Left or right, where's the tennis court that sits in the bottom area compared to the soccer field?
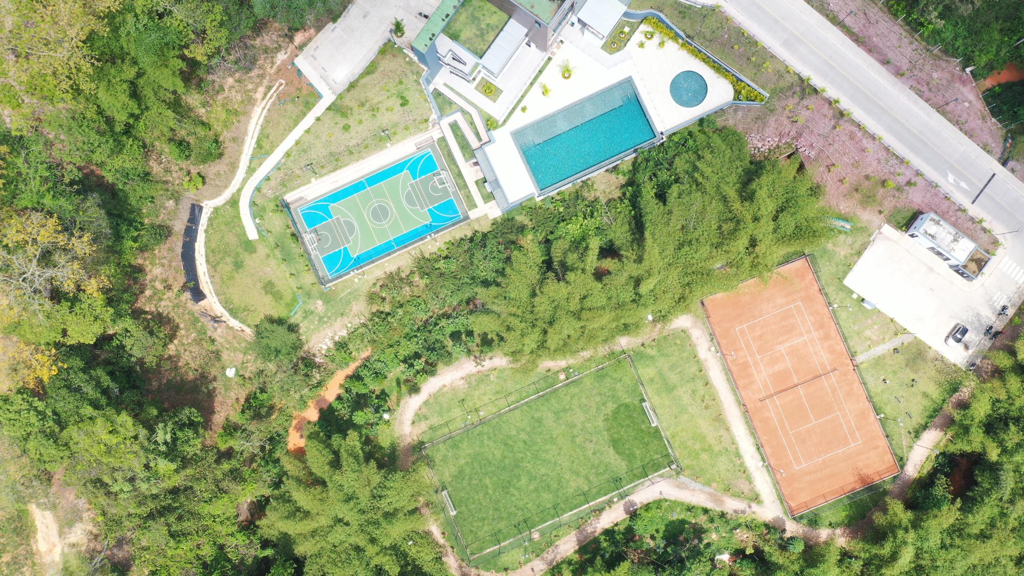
right of it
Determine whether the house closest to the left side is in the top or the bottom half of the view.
top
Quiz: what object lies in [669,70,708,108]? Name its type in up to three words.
swimming pool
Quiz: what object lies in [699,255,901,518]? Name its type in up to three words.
tennis court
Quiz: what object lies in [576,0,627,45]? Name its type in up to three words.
building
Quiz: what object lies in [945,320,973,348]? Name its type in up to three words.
car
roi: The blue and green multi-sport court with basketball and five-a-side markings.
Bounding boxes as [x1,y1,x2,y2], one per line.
[291,142,469,285]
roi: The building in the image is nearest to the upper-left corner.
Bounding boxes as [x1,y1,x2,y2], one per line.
[412,0,575,89]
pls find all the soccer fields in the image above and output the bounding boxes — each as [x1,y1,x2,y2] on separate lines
[421,353,678,561]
